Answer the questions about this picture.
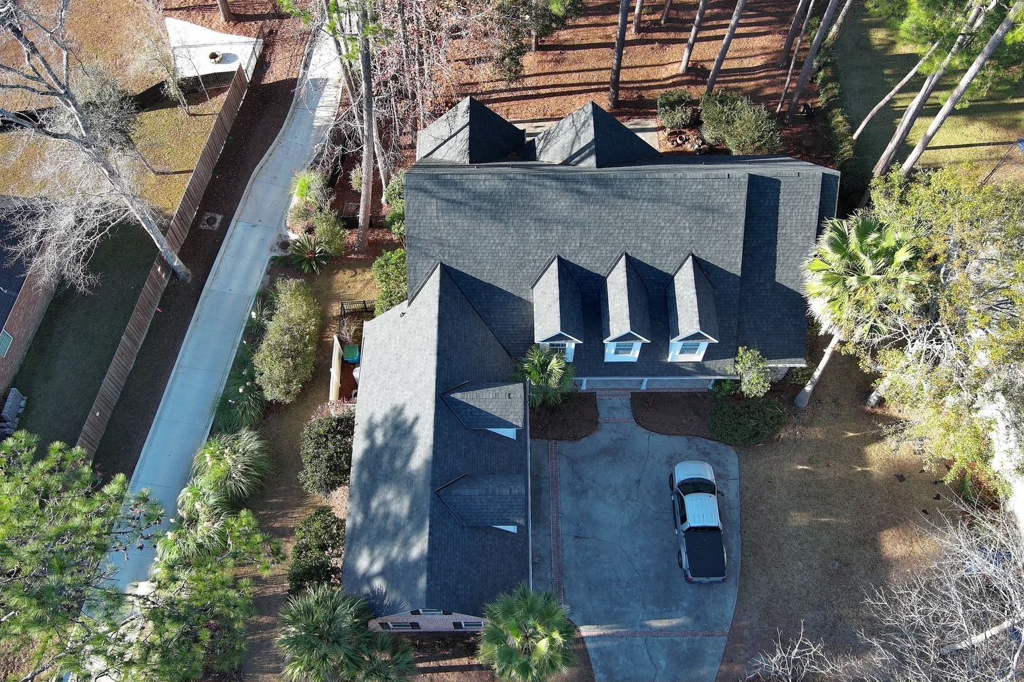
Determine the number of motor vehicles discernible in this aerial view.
1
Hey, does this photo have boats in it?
No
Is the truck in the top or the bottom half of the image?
bottom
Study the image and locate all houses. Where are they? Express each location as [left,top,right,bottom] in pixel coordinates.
[337,95,840,637]
[0,177,81,414]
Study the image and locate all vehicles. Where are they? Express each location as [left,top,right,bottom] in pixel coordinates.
[670,463,727,585]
